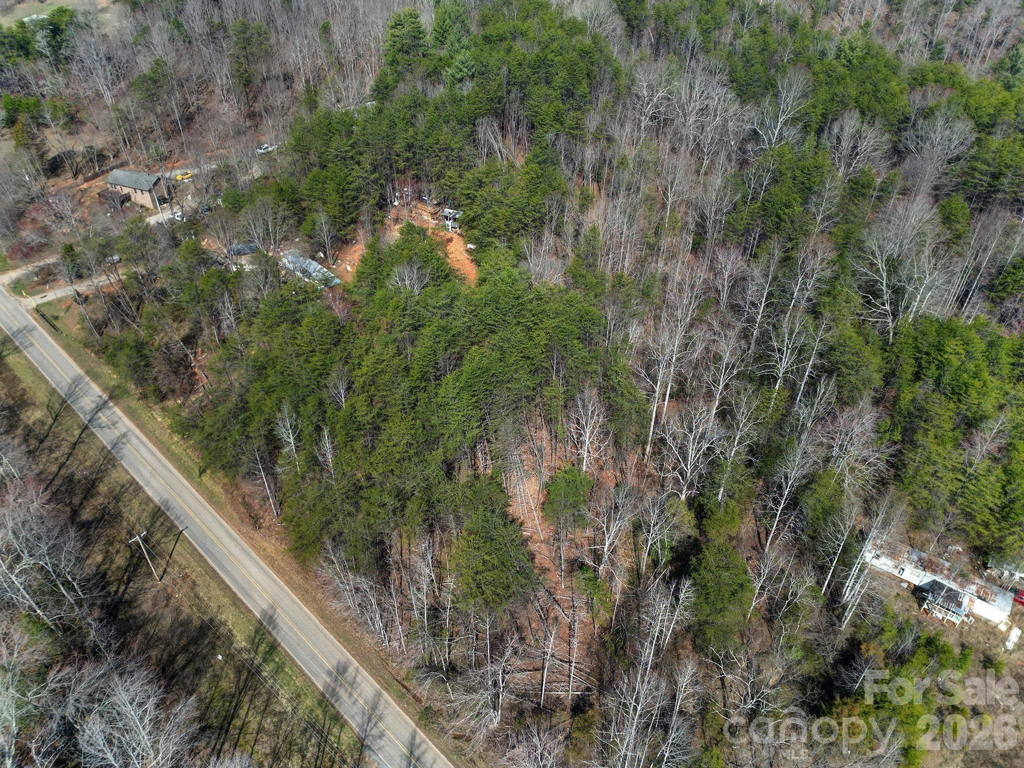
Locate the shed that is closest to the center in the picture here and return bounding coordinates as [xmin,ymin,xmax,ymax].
[442,211,470,231]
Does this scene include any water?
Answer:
No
